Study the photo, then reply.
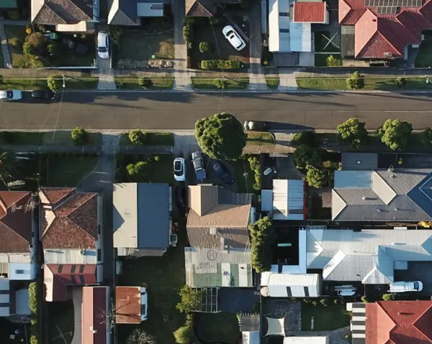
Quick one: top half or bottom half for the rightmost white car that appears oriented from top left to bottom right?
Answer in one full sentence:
Seen from above, the rightmost white car that appears oriented from top left to bottom right lies in the top half of the view.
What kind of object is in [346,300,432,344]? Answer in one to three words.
house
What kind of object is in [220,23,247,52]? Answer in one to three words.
car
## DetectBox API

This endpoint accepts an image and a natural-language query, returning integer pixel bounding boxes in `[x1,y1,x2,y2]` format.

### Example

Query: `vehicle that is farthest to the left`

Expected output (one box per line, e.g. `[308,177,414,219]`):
[0,88,23,102]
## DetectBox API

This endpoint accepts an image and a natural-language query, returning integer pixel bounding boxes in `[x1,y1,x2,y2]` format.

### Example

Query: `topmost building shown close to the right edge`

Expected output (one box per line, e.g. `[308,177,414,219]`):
[338,0,432,61]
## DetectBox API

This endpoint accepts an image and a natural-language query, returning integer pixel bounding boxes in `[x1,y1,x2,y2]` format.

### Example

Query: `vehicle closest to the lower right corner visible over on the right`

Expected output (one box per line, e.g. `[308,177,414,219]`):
[391,279,422,293]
